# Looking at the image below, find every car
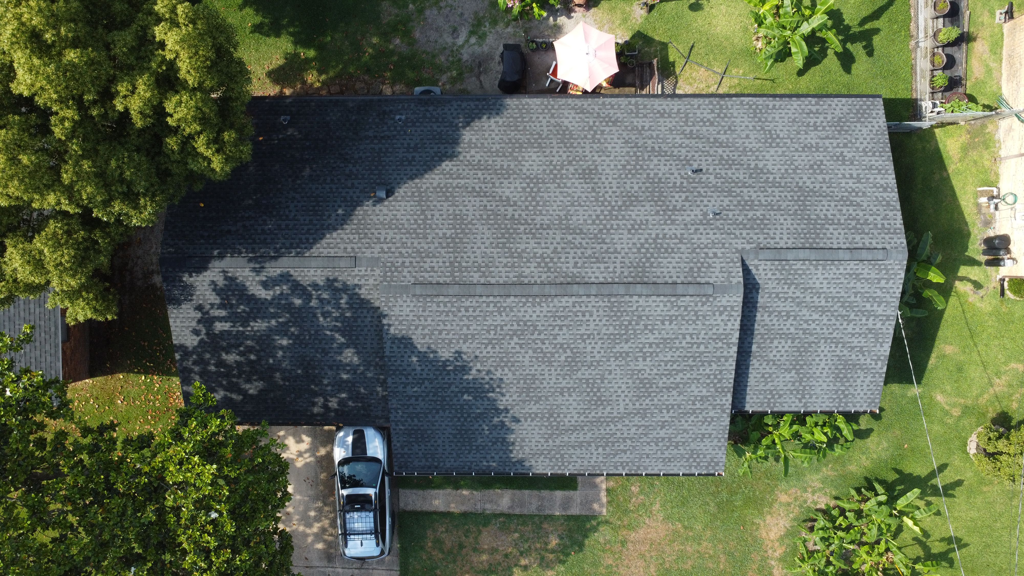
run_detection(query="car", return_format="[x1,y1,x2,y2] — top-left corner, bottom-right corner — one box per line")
[328,429,398,565]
